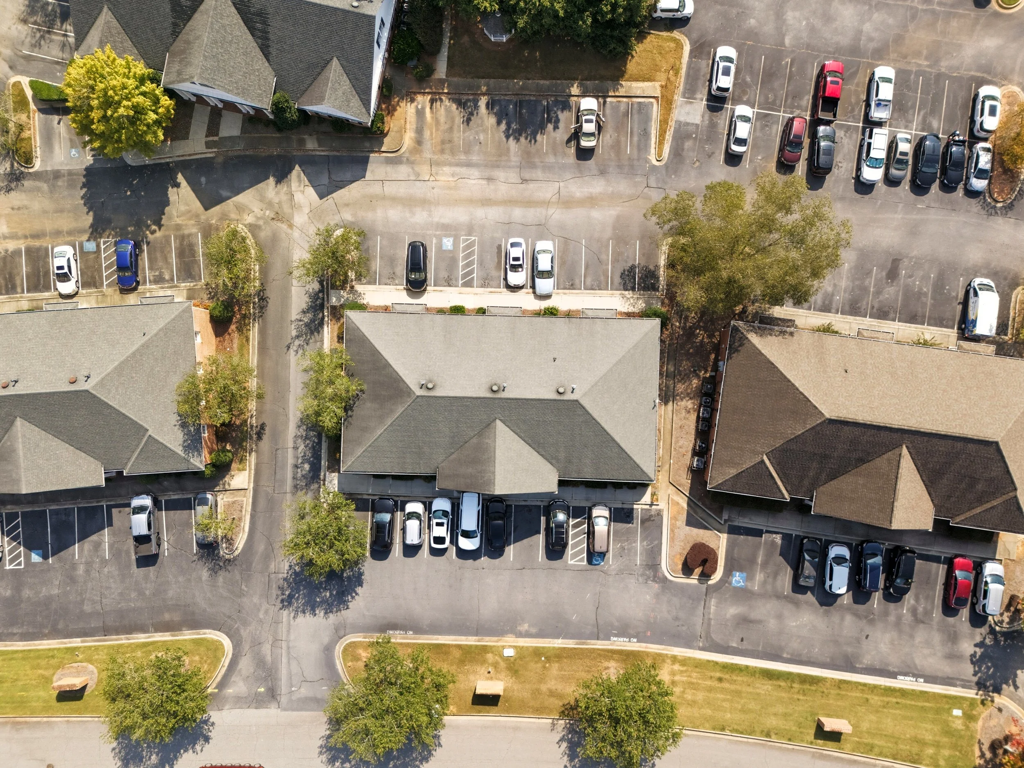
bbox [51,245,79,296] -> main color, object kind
white car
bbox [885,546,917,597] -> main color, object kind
black car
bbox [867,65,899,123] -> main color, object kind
white truck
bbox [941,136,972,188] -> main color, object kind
black car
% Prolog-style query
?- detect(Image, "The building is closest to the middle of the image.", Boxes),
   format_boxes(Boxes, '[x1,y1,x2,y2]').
[340,303,662,494]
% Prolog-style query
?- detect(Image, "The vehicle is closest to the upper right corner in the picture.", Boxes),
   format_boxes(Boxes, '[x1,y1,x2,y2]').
[972,85,1005,138]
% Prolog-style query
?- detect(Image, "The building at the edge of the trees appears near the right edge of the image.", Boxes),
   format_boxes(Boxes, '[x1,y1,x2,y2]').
[700,315,1024,535]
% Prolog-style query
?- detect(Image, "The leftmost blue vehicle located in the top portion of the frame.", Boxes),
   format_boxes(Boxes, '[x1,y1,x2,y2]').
[112,238,139,290]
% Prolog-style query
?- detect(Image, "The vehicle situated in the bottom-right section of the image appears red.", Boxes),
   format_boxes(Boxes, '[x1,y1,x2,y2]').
[945,554,975,610]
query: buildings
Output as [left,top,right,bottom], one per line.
[700,315,1024,535]
[340,303,662,494]
[0,295,221,494]
[63,0,406,134]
